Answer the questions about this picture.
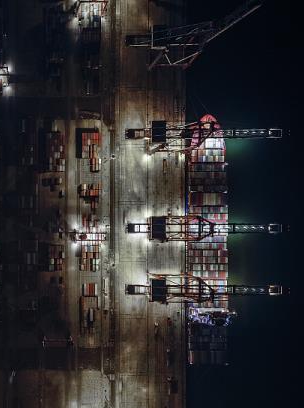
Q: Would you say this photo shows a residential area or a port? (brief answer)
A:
port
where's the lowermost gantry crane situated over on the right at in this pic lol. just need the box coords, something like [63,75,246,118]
[125,269,289,301]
